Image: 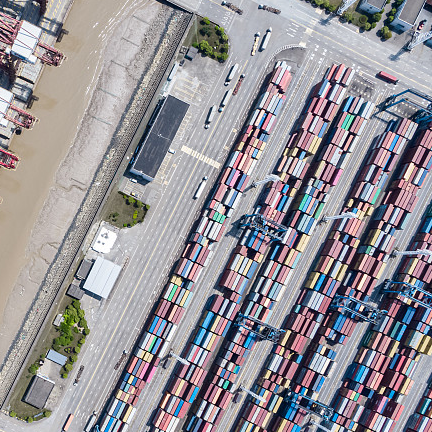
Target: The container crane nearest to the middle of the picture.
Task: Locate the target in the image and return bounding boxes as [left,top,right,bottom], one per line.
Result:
[237,211,291,241]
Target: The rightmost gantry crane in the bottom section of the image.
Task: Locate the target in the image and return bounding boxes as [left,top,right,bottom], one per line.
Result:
[380,280,432,310]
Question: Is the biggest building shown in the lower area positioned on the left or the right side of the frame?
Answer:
left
